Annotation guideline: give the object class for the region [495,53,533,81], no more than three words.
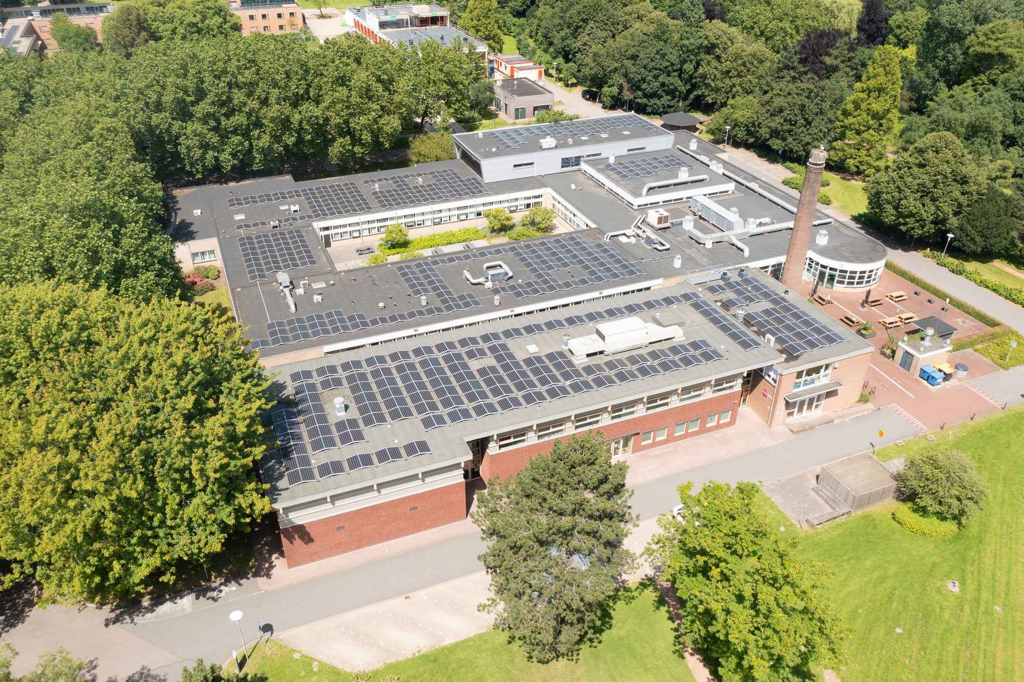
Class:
building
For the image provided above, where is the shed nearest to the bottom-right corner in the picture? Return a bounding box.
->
[819,452,900,515]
